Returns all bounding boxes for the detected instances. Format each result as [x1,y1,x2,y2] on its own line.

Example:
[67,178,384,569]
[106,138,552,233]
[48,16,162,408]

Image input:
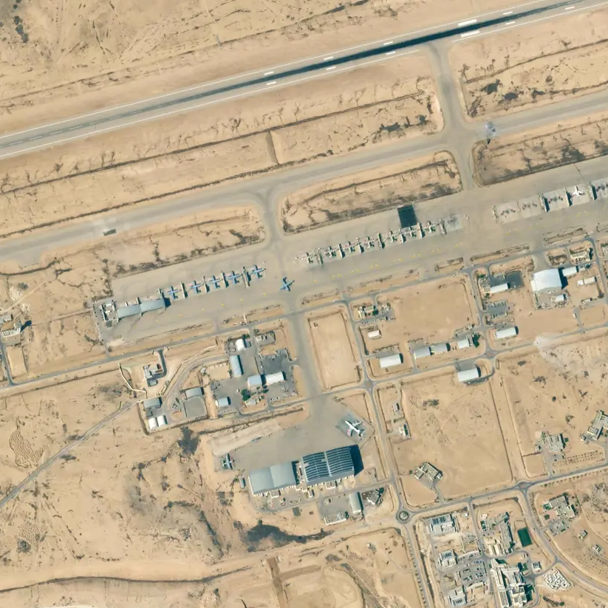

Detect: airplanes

[343,240,358,252]
[252,265,263,276]
[222,453,234,467]
[423,220,437,232]
[228,270,240,280]
[385,230,400,241]
[301,250,315,263]
[323,245,338,257]
[190,280,203,292]
[362,235,376,247]
[572,186,584,197]
[167,285,179,297]
[404,225,419,237]
[280,277,293,290]
[209,275,222,286]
